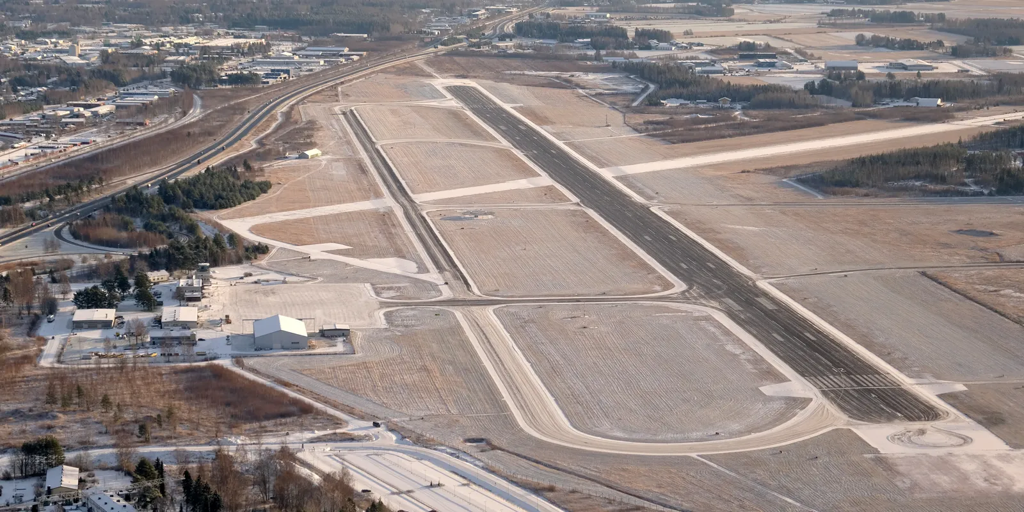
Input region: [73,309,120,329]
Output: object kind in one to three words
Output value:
building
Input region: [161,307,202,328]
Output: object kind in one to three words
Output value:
building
